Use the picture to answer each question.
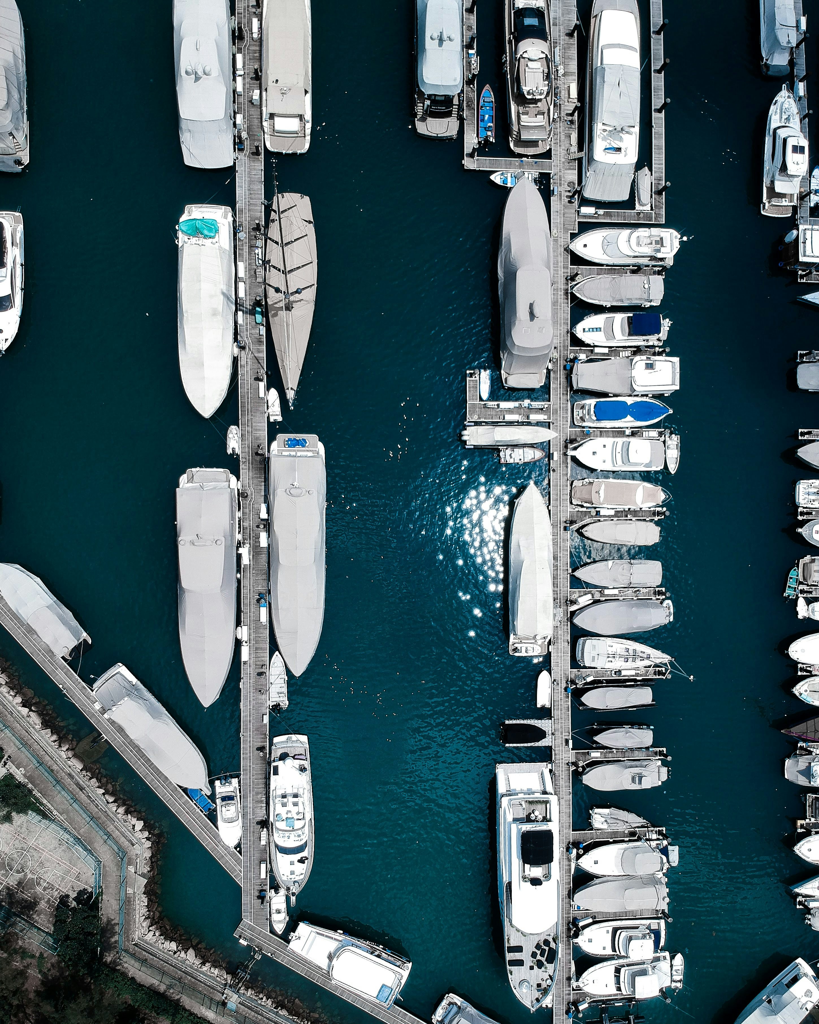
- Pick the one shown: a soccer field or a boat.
boat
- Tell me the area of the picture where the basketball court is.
bottom left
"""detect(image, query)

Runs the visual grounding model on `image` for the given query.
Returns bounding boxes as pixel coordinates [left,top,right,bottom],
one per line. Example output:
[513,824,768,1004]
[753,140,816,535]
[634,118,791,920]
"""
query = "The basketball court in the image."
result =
[0,813,93,938]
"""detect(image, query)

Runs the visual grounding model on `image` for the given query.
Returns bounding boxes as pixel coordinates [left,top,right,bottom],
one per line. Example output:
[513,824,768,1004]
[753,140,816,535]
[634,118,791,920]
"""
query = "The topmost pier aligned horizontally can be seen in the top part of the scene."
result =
[476,157,552,173]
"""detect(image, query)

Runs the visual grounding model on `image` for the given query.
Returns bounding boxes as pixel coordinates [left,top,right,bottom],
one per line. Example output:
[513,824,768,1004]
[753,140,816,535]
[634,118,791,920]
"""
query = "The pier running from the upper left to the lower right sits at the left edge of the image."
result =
[0,600,242,886]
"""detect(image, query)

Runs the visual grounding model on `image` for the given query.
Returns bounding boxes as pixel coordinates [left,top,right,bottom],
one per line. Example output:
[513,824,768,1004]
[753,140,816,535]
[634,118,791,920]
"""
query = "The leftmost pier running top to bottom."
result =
[236,0,269,933]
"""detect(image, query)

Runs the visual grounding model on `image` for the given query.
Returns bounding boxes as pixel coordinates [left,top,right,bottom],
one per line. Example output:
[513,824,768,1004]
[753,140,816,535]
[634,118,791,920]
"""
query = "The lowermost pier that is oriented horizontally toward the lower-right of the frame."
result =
[572,988,666,1008]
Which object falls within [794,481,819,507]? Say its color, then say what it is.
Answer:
white boat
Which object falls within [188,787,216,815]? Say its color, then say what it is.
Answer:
blue boat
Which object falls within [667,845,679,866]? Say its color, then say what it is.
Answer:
white boat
